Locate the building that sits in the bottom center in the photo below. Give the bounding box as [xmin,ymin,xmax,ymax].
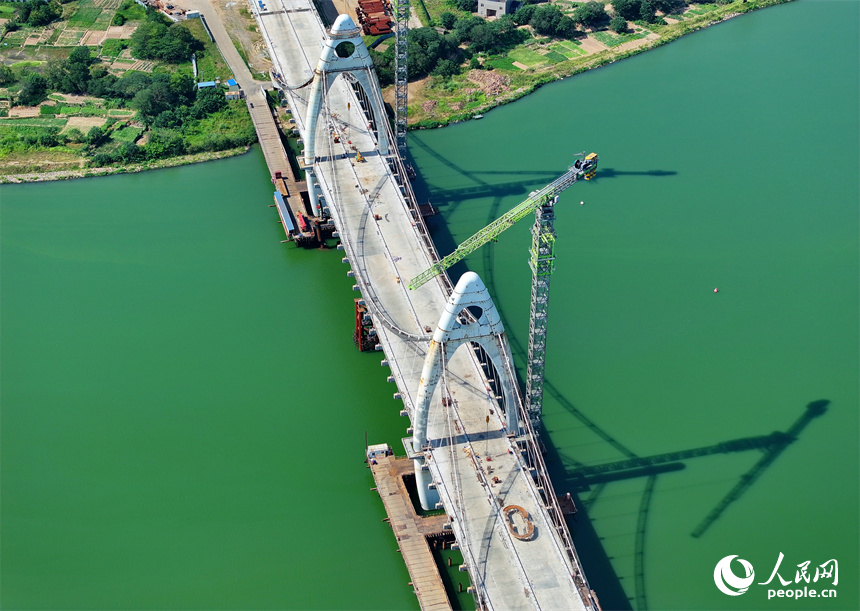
[364,431,389,461]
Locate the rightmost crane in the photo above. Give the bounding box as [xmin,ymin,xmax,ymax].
[409,150,596,490]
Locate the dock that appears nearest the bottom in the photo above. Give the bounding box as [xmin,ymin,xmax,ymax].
[366,454,456,611]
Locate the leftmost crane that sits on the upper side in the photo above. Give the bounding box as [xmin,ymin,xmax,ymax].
[349,0,413,206]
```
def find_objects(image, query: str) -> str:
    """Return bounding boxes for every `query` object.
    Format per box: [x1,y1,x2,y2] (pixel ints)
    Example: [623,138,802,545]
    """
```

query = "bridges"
[245,0,606,611]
